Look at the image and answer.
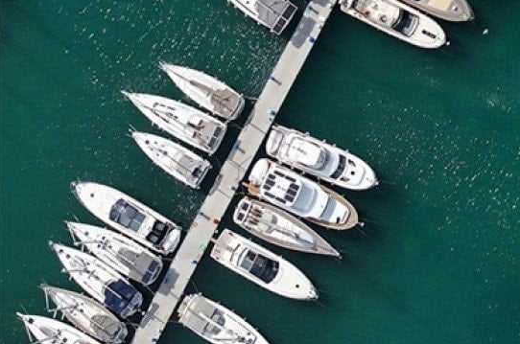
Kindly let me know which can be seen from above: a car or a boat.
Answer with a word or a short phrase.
boat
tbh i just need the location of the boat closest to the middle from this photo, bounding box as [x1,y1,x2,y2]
[246,159,269,183]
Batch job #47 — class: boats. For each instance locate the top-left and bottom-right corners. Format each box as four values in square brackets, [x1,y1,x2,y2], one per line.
[222,191,358,266]
[233,0,299,31]
[62,175,189,253]
[108,79,239,151]
[197,224,337,316]
[404,0,478,20]
[158,53,257,120]
[129,132,218,198]
[249,116,391,189]
[165,275,272,344]
[38,272,133,344]
[246,159,269,183]
[341,0,455,57]
[47,230,149,316]
[14,310,100,344]
[231,152,362,232]
[62,212,168,291]
[162,228,181,253]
